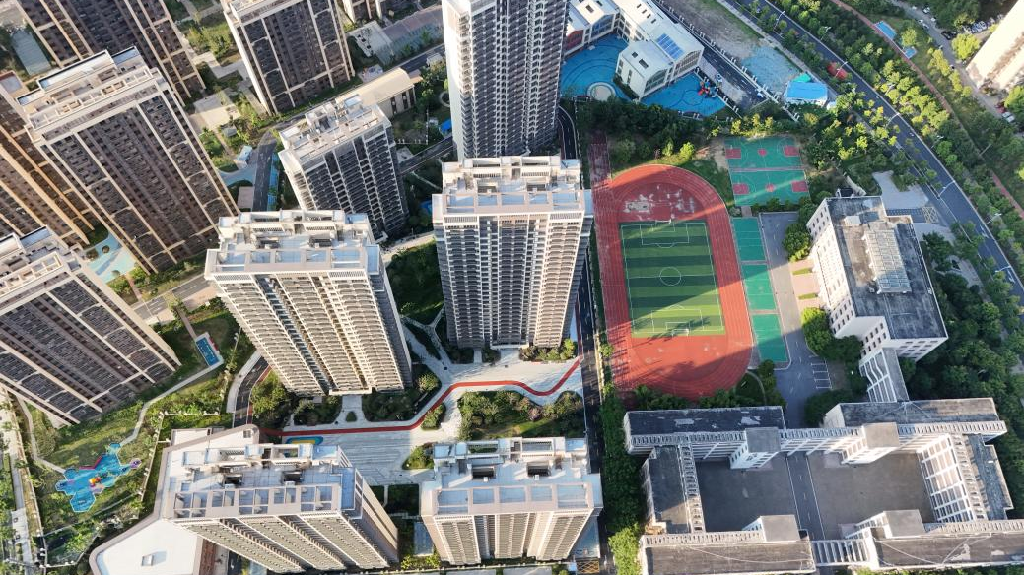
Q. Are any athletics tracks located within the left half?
No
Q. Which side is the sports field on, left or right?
right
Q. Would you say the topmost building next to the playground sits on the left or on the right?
left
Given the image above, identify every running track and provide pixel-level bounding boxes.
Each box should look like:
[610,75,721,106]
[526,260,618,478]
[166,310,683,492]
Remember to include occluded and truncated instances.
[581,134,753,410]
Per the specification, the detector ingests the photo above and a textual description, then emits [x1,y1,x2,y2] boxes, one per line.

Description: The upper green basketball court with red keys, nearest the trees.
[724,136,805,169]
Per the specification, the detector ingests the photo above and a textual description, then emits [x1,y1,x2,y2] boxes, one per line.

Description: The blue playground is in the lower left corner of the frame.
[57,443,128,512]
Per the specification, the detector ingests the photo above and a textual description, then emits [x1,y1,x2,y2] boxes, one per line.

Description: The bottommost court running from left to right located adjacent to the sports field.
[729,169,812,205]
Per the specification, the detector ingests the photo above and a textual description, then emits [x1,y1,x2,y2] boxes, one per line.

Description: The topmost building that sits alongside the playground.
[0,223,183,423]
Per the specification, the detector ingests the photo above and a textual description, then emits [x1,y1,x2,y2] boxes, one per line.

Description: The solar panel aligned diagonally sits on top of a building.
[658,32,684,56]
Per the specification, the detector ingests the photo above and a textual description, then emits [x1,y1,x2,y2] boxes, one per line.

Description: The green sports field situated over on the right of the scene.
[618,220,727,336]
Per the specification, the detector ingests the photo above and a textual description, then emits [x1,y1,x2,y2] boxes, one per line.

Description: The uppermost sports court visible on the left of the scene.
[193,334,223,365]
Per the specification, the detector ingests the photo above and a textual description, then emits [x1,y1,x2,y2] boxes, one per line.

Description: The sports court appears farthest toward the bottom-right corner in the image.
[751,314,789,363]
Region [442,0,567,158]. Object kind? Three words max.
building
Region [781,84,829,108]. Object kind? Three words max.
shed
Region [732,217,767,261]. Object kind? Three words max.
sports court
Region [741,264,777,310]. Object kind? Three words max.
sports court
